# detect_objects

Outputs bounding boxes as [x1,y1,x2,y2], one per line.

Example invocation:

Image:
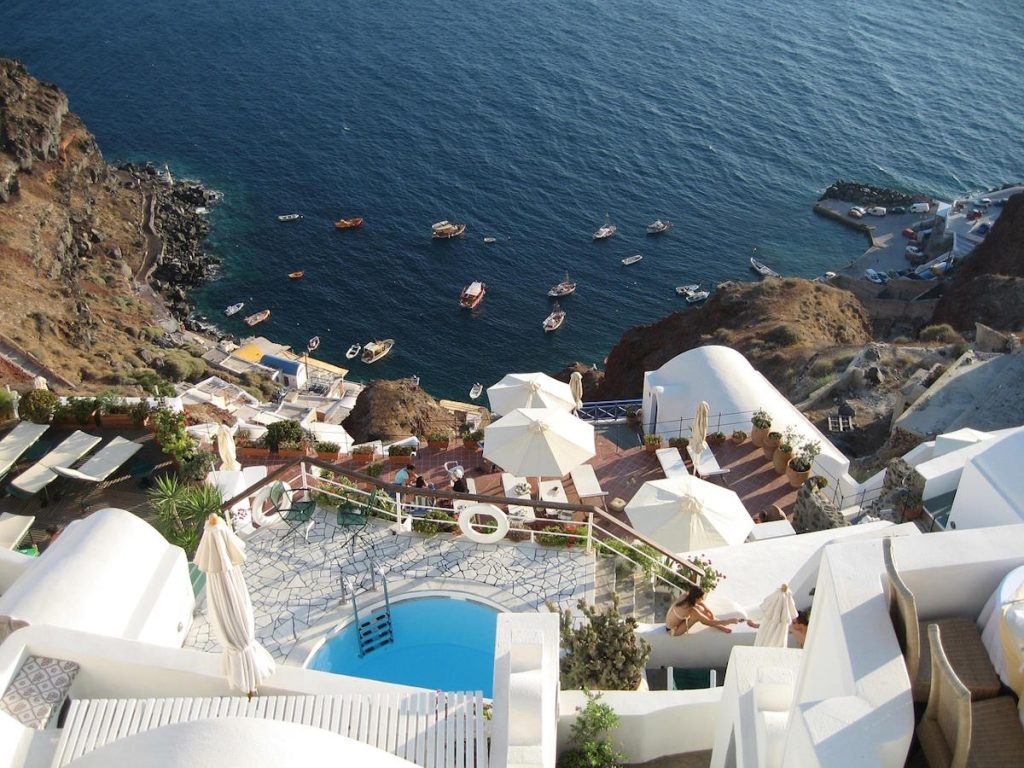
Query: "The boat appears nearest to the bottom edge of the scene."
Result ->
[467,383,480,400]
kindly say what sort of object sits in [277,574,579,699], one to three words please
swimming pool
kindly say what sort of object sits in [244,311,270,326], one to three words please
boat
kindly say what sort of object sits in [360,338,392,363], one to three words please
boat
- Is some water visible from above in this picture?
Yes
